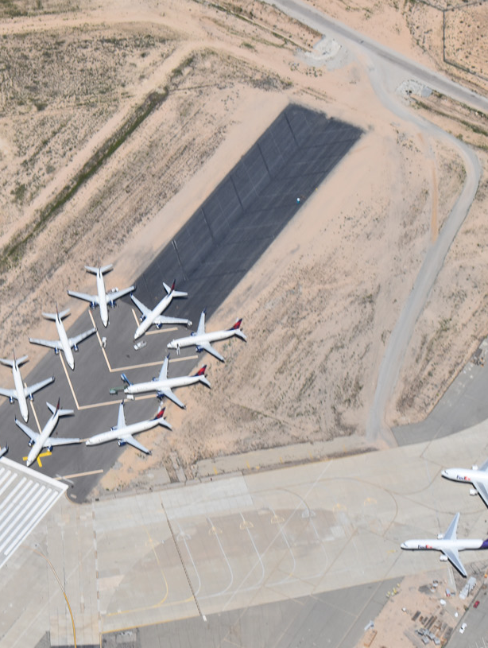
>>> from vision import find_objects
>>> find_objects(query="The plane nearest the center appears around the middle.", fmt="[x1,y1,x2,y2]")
[168,307,245,359]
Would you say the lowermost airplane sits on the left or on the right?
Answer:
right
